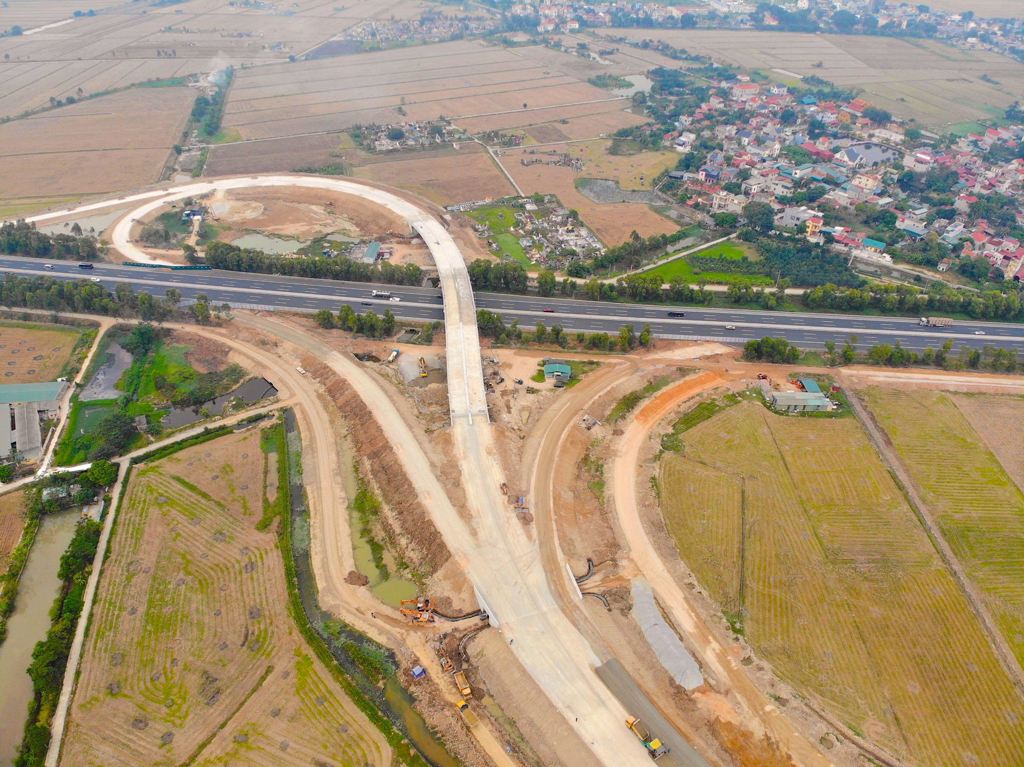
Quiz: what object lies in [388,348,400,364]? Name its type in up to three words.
vehicle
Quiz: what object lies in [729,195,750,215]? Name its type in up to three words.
house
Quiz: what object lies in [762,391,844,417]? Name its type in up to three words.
building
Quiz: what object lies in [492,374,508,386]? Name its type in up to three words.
vehicle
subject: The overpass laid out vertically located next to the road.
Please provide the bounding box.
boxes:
[399,212,493,439]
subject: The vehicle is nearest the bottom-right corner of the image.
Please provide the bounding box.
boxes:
[622,709,654,749]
